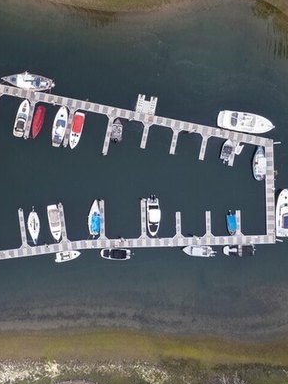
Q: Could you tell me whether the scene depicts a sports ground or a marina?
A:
marina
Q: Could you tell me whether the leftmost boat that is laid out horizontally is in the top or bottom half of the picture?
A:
top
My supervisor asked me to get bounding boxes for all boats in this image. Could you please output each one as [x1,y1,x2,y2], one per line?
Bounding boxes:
[52,250,80,263]
[234,144,243,155]
[212,111,280,142]
[50,106,71,150]
[274,189,288,240]
[227,210,237,235]
[27,209,41,244]
[46,204,64,243]
[31,105,46,138]
[0,69,57,99]
[12,100,32,140]
[101,243,133,260]
[220,139,235,165]
[89,200,106,238]
[254,146,287,181]
[111,118,123,146]
[146,195,161,236]
[224,244,257,257]
[183,240,217,258]
[66,111,86,149]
